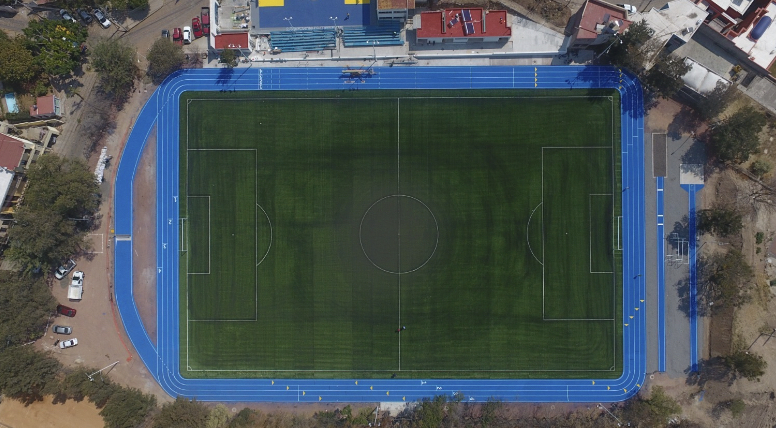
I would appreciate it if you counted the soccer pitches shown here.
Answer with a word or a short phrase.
one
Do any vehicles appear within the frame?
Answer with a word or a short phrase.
Yes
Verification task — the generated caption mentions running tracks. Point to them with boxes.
[114,64,646,403]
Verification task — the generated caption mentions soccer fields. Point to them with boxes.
[179,87,623,380]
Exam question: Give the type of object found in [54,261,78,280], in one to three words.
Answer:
vehicle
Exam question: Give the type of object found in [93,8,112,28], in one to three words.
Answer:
car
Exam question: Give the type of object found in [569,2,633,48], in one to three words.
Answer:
building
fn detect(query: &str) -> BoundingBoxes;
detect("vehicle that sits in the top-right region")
[618,1,640,14]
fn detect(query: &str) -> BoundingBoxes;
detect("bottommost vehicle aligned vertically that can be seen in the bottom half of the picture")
[67,271,83,302]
